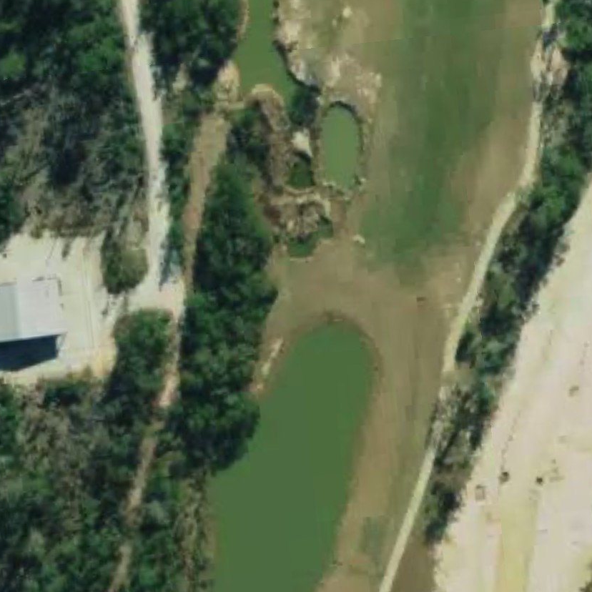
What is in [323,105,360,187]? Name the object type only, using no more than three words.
pond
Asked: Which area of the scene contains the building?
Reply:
left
